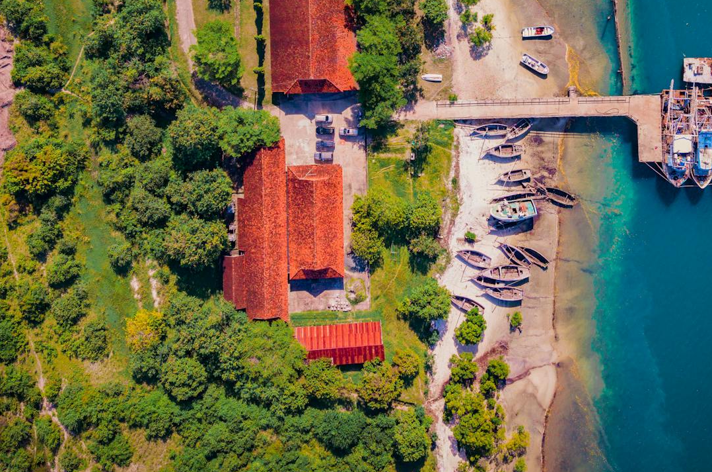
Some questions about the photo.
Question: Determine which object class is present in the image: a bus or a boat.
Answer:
boat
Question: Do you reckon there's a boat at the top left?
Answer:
No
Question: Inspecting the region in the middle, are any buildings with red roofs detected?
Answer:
Yes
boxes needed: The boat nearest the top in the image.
[521,26,554,38]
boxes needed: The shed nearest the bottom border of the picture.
[296,319,386,361]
